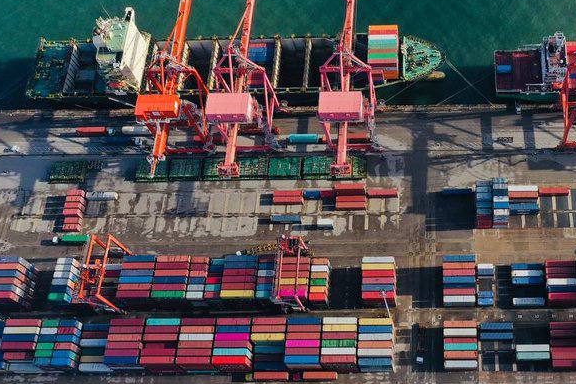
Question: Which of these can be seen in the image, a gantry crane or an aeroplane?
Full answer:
Of the two, only a gantry crane appears.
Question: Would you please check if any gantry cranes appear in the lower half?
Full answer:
Yes, a gantry crane is visible in the lower half.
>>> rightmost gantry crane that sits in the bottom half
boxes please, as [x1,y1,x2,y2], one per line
[274,232,313,317]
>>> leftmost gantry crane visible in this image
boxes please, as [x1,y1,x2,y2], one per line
[75,233,138,318]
